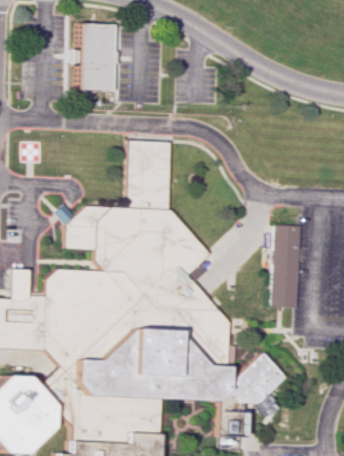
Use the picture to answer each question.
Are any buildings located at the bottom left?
Yes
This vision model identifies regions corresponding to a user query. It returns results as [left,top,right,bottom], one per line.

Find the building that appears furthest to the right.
[270,226,301,308]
